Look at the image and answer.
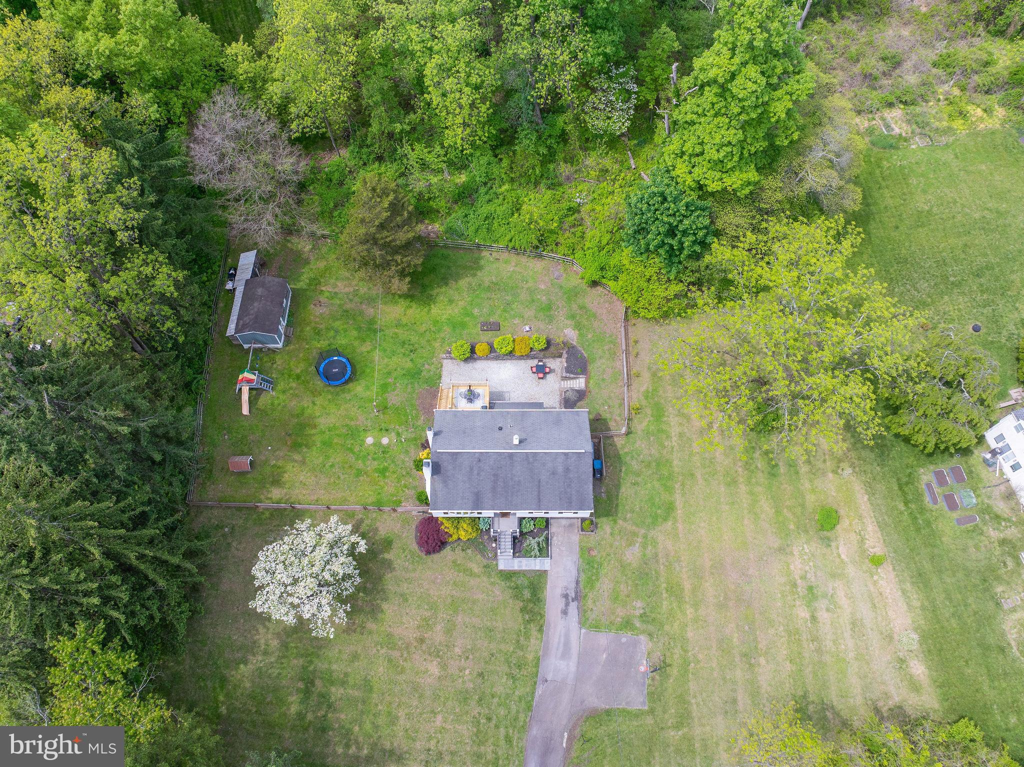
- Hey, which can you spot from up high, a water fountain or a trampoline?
trampoline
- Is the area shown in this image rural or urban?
rural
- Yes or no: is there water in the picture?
No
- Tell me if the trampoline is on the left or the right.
left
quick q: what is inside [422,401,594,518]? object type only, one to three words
house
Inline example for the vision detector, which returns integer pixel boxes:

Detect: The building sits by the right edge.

[985,413,1024,508]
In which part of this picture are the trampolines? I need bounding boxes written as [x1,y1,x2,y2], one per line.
[314,345,356,388]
